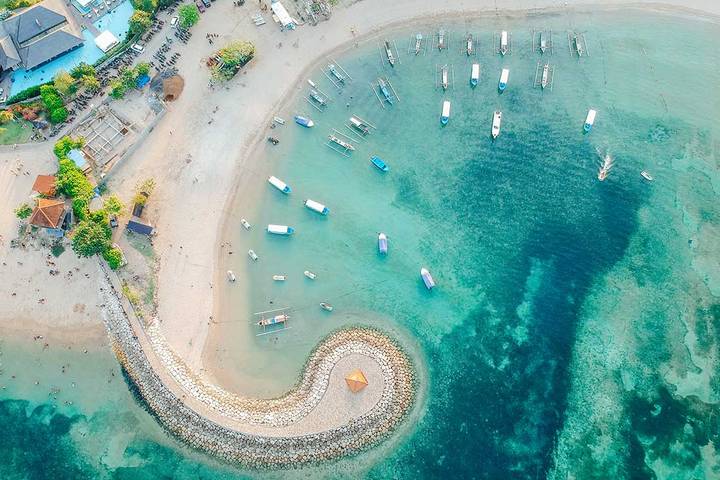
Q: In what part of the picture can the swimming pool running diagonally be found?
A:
top left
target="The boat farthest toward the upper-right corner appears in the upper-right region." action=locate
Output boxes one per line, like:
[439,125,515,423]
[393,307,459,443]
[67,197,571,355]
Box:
[567,34,589,57]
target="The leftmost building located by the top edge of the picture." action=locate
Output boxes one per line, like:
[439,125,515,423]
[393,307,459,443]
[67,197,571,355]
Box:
[0,0,87,78]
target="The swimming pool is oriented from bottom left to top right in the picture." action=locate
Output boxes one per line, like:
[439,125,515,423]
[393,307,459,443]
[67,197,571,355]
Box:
[9,0,135,97]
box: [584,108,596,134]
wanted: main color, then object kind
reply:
white boat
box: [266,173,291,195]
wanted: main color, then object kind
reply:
white boat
